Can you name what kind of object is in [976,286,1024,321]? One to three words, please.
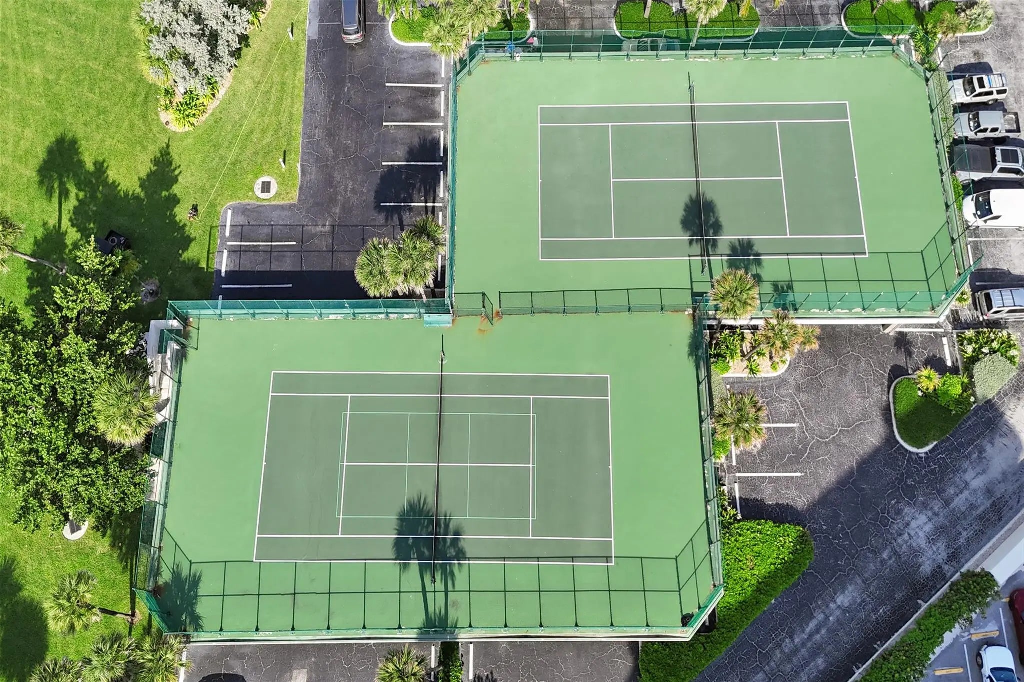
car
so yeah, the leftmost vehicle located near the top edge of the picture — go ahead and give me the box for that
[339,0,366,40]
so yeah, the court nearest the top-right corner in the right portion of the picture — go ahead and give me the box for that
[453,52,960,316]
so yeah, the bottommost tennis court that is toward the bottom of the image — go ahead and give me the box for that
[155,315,714,631]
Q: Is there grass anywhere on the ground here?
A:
Yes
